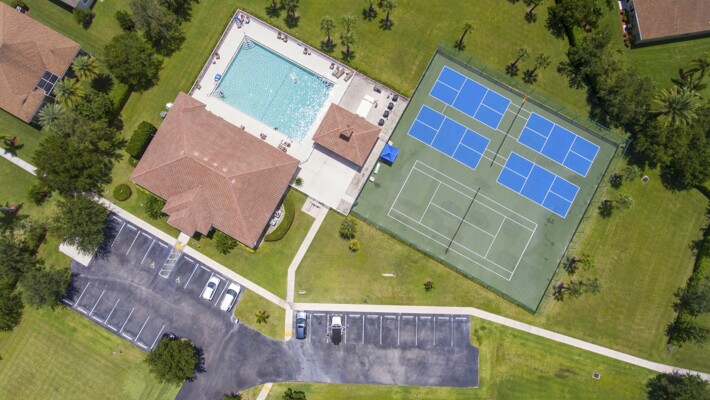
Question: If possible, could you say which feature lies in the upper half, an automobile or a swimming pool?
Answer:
swimming pool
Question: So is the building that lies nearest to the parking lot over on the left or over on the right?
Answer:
left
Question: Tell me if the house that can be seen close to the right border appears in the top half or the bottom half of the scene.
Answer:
top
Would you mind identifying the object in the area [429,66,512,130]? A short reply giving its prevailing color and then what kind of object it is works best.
blue sports court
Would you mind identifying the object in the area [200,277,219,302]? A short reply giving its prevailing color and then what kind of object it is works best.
white car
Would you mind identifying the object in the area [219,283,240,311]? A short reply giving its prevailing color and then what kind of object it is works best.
white car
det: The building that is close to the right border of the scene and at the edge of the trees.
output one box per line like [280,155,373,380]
[623,0,710,46]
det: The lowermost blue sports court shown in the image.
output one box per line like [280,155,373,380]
[496,152,581,218]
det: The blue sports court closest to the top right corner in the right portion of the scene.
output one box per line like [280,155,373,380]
[517,112,601,177]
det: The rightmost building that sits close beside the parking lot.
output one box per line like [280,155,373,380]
[132,92,302,247]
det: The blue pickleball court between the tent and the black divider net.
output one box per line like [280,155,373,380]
[408,105,490,169]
